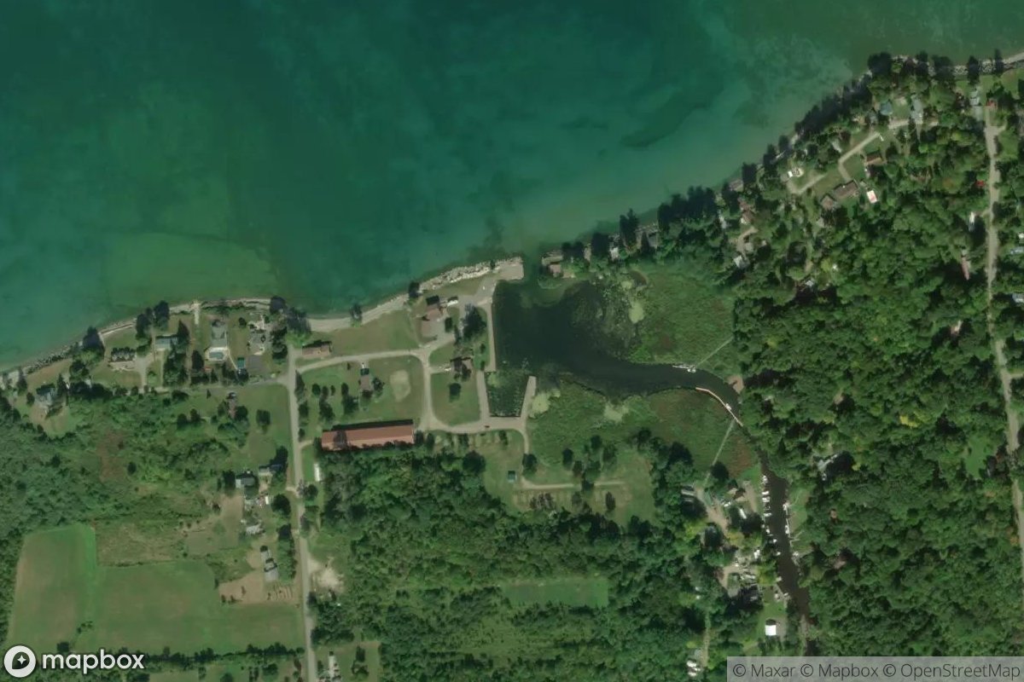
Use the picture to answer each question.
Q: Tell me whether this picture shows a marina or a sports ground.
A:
marina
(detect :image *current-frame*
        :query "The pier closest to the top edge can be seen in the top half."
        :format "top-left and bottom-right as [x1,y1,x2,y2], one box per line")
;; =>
[495,260,524,283]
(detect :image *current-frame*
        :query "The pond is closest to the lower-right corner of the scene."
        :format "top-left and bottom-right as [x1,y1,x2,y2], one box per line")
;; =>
[484,265,746,422]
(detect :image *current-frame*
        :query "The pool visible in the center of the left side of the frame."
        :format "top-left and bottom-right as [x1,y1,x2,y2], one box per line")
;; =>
[206,347,228,360]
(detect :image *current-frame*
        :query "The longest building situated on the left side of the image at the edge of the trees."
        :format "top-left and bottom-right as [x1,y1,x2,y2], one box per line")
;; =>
[321,426,414,450]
